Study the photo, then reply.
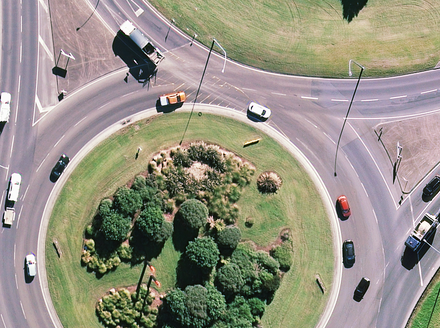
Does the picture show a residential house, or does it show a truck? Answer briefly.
truck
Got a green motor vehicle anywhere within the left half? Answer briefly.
No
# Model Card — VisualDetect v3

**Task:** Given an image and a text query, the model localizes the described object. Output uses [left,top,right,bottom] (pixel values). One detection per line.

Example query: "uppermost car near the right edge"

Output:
[424,176,440,198]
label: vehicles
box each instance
[160,92,186,106]
[356,277,371,299]
[120,19,164,65]
[406,214,438,252]
[340,195,352,217]
[0,92,12,122]
[8,174,20,202]
[26,254,36,276]
[424,176,440,198]
[249,102,272,118]
[52,156,69,180]
[344,241,355,265]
